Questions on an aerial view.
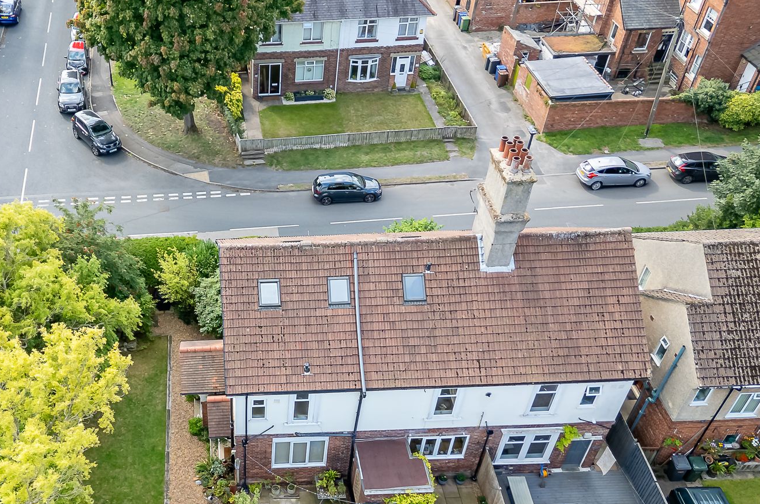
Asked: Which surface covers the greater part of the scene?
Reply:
buildings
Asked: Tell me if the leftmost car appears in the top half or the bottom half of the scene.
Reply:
top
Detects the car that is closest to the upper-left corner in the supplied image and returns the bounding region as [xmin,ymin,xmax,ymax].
[0,0,28,23]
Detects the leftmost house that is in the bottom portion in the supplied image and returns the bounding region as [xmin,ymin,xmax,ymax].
[179,135,650,504]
